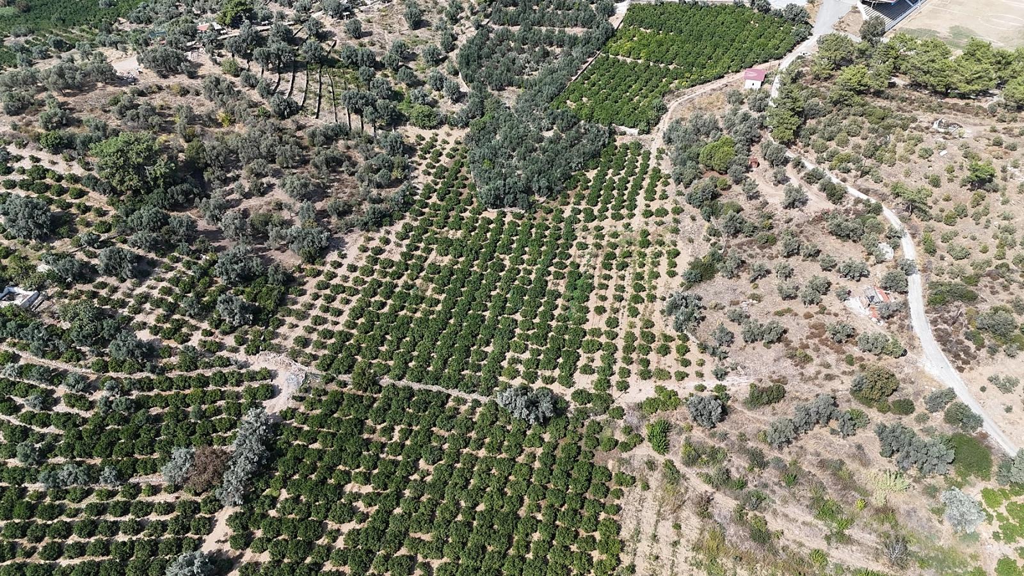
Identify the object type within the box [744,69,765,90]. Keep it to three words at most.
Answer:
house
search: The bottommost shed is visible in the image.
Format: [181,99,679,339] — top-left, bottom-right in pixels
[864,286,888,317]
